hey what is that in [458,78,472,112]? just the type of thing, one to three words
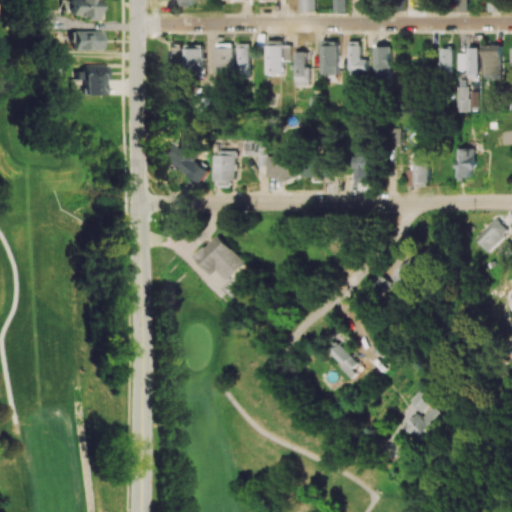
shed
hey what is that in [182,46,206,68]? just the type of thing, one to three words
house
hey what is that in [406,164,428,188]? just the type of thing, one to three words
house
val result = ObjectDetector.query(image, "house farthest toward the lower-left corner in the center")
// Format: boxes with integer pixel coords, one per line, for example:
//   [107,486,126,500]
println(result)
[190,237,243,282]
